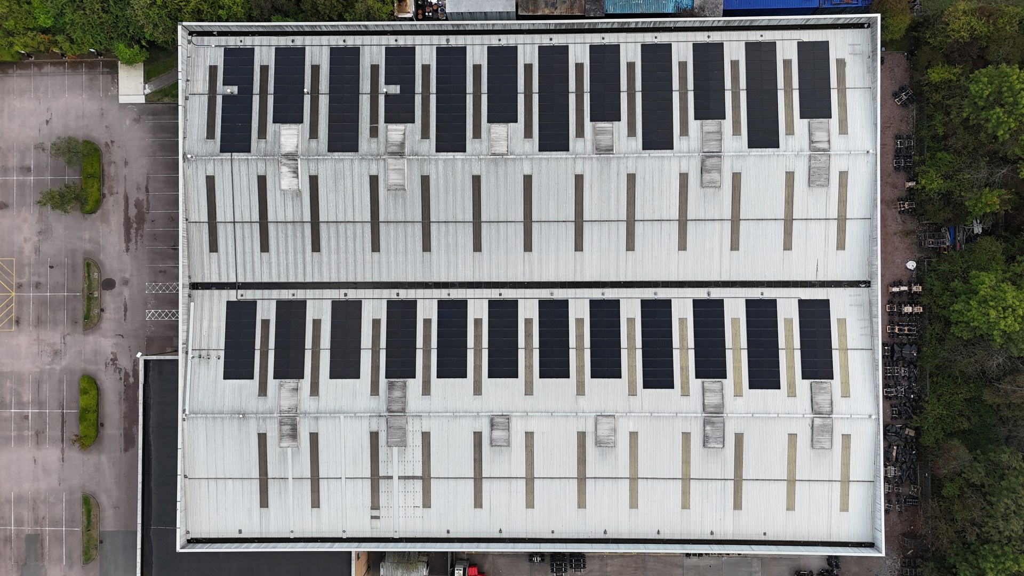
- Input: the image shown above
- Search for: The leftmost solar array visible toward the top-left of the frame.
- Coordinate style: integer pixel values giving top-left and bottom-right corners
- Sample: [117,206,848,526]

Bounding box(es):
[220,48,254,152]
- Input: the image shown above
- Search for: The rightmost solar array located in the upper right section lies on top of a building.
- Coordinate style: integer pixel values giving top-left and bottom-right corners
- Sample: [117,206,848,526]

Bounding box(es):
[797,41,832,118]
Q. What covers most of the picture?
buildings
